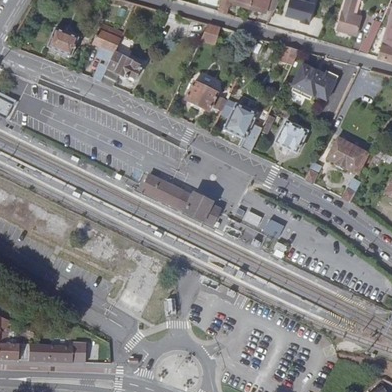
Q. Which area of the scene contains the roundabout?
bottom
